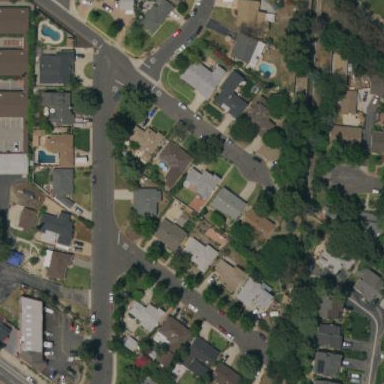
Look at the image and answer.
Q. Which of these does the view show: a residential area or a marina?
residential area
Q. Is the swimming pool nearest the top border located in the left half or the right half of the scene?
left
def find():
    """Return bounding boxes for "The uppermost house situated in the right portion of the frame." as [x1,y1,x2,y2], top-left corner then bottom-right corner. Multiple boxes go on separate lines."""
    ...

[238,0,276,30]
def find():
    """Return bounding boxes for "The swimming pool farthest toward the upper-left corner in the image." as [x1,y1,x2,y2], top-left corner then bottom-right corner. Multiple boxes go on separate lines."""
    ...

[38,21,64,44]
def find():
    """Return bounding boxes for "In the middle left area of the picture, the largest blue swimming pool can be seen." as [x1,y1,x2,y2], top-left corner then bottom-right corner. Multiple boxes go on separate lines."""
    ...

[38,149,55,164]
